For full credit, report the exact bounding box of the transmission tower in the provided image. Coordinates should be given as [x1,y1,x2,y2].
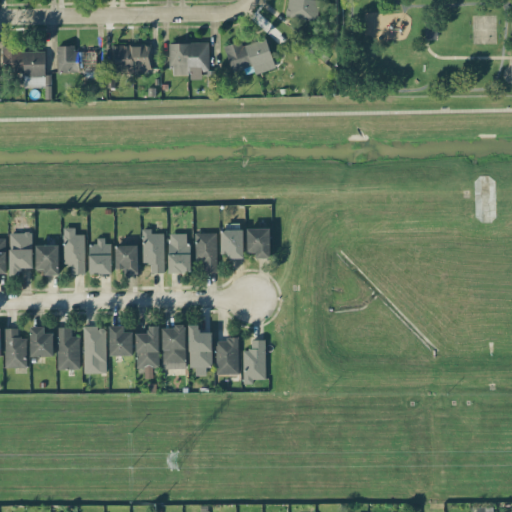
[166,450,180,470]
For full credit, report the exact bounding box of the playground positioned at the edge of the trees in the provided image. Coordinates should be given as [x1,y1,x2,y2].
[364,12,412,41]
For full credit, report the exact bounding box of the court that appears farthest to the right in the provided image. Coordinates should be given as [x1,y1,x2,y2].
[473,16,497,44]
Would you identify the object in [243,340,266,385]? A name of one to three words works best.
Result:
house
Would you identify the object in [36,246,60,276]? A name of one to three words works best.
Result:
house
